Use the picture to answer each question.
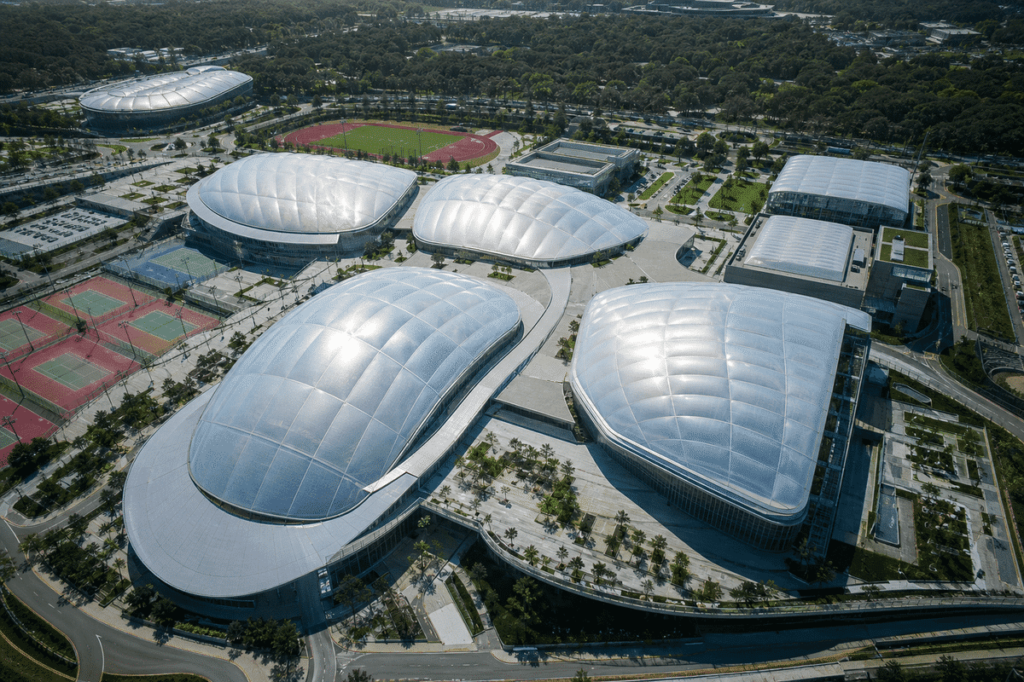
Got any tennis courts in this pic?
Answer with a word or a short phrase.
Yes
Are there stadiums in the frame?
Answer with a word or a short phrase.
Yes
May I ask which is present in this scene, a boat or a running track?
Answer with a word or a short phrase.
running track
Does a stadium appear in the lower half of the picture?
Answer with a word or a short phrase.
Yes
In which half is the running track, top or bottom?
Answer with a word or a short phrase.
top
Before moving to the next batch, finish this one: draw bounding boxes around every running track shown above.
[275,121,502,163]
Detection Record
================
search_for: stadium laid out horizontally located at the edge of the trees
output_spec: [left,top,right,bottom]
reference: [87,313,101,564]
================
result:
[76,65,256,141]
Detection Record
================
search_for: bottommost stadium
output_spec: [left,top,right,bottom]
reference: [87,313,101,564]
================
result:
[122,268,521,620]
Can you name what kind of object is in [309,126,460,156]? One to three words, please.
sports field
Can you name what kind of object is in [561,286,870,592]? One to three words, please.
building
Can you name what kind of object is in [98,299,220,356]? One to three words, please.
tennis court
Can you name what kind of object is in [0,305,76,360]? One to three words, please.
tennis court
